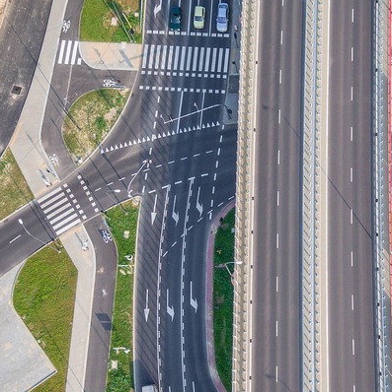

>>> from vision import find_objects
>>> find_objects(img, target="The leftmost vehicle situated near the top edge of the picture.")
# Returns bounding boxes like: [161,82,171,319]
[167,1,181,30]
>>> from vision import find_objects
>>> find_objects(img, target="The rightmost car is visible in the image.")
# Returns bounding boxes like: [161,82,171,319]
[215,1,229,31]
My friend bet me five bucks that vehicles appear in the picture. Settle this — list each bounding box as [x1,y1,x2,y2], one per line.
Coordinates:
[141,386,157,392]
[167,1,181,30]
[215,1,229,31]
[192,3,204,28]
